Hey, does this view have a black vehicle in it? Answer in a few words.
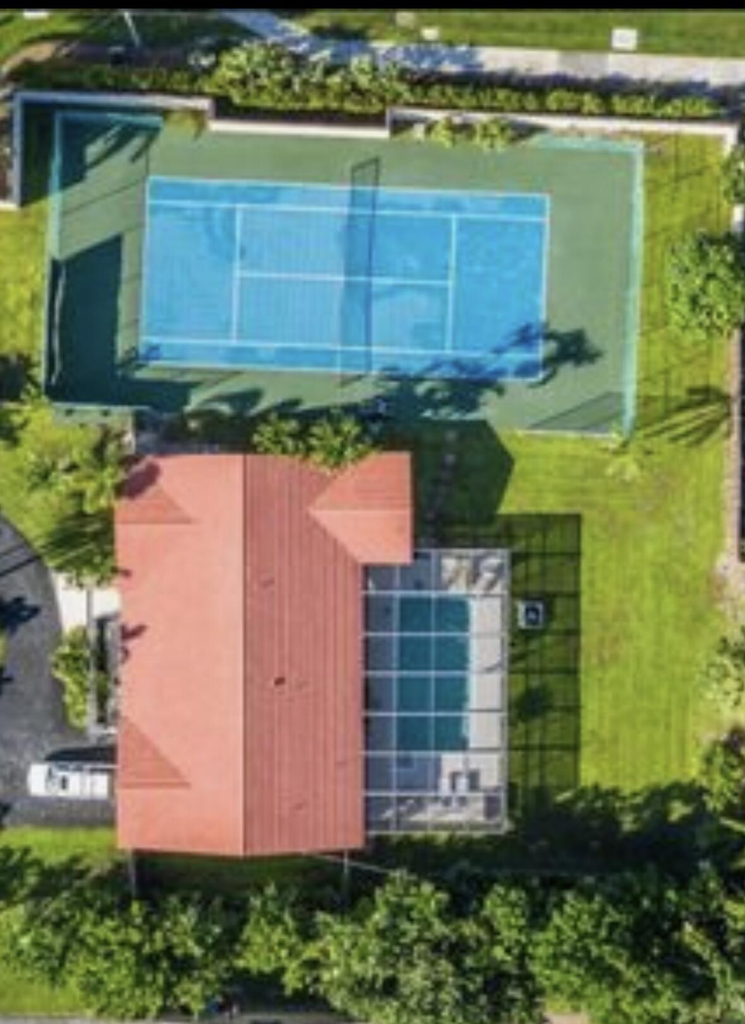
No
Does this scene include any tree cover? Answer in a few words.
Yes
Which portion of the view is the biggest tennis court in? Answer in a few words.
top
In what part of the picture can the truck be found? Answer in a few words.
bottom left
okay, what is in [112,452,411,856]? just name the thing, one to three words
house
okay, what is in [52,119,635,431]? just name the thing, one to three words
tennis court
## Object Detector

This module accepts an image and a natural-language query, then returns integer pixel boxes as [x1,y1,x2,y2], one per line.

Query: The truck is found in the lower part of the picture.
[28,761,113,801]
